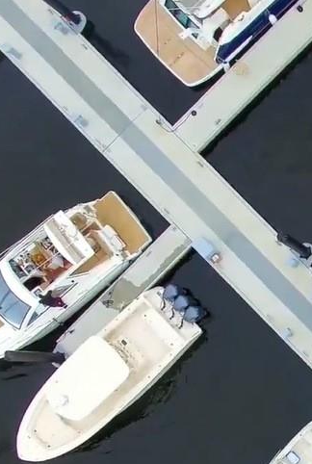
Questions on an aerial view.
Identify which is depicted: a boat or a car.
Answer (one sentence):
Looking from above, you can make out a boat.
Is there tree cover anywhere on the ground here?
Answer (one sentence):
No, the picture contains no tree cover.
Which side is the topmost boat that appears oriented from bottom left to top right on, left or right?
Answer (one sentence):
The topmost boat that appears oriented from bottom left to top right is on the left side of the image.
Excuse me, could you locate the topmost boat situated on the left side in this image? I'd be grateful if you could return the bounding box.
[0,191,151,357]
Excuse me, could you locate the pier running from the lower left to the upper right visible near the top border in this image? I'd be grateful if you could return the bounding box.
[172,0,312,151]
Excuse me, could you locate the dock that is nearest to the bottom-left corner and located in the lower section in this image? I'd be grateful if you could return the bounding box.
[53,222,195,361]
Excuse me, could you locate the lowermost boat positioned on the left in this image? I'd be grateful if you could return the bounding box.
[14,283,210,462]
